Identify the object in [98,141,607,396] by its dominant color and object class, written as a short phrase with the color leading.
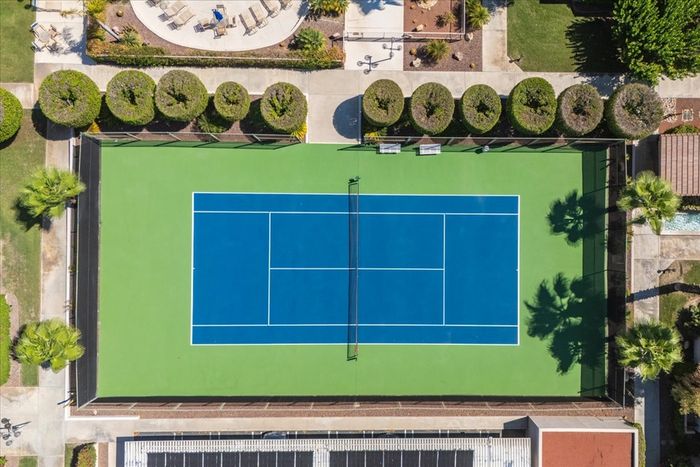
green tennis court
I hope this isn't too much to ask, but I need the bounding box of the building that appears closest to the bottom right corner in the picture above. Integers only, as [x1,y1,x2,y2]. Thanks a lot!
[528,416,638,467]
